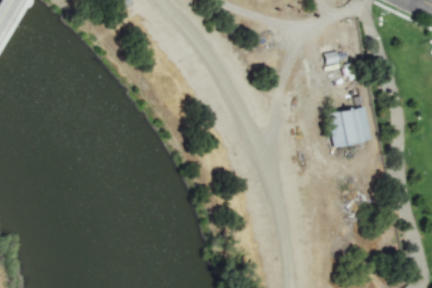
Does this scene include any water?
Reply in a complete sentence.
Yes, some water is visible.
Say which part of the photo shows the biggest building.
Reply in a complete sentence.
The biggest building appears toward the right of the photo.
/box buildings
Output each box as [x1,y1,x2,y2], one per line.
[333,106,372,147]
[324,52,348,64]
